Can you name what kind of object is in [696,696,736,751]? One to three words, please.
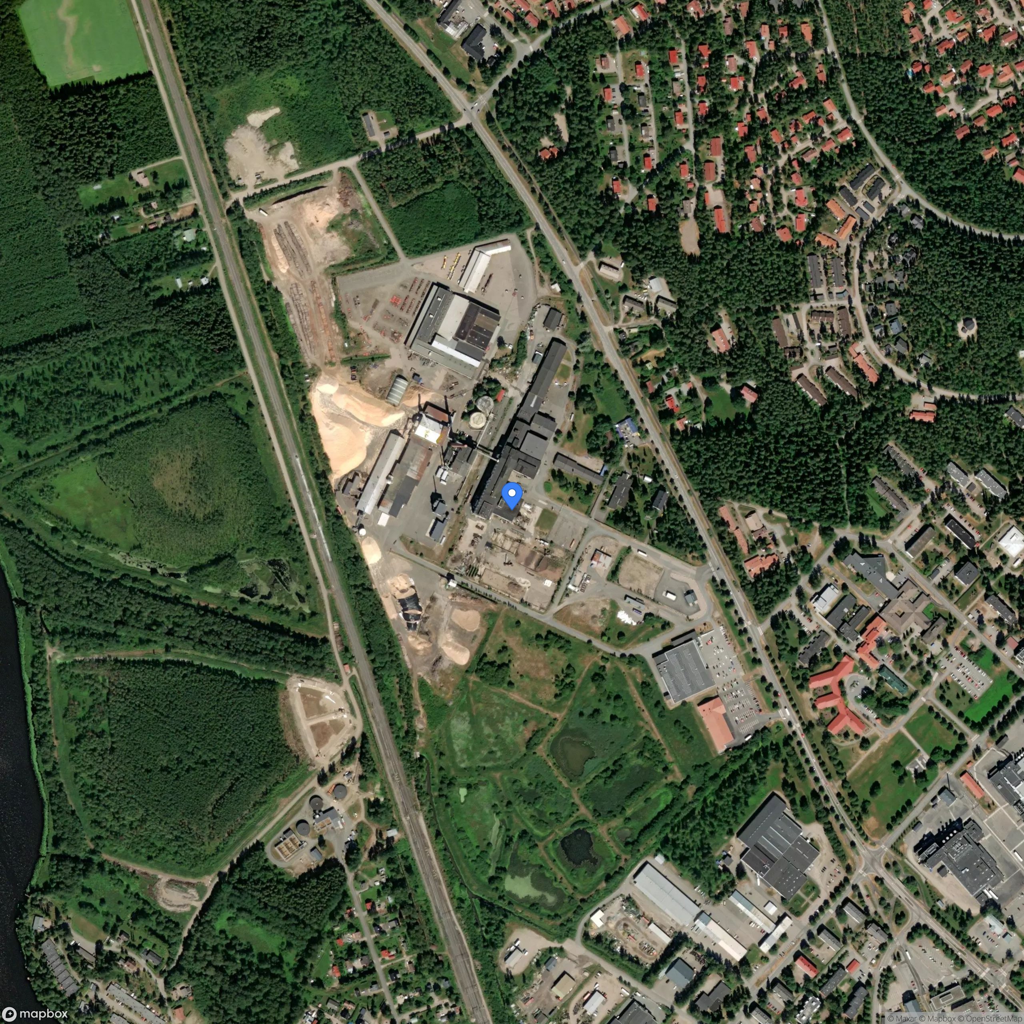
building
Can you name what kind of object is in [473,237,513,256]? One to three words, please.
building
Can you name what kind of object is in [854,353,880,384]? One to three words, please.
house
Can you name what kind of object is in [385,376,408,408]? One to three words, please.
shed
